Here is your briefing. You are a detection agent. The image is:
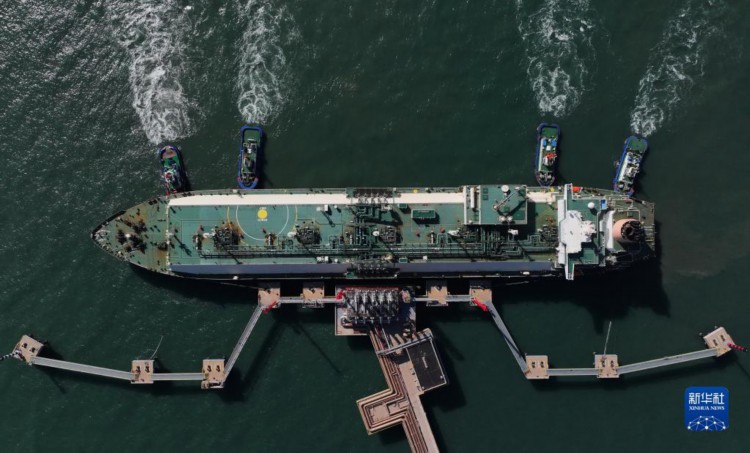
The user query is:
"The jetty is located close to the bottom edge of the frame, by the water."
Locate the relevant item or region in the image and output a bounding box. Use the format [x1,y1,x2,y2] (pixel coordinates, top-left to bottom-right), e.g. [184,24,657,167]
[356,330,444,453]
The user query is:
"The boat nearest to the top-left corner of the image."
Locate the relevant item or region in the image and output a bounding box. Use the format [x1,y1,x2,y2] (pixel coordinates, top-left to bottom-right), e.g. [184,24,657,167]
[157,145,190,193]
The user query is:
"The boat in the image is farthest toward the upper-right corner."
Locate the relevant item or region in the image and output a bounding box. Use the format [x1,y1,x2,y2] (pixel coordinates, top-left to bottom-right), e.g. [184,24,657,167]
[613,136,648,194]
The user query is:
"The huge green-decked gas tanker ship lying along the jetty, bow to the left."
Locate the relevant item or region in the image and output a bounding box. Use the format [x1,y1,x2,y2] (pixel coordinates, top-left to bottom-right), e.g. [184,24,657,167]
[89,183,656,281]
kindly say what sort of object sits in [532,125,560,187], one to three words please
boat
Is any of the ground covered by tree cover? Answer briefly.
No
